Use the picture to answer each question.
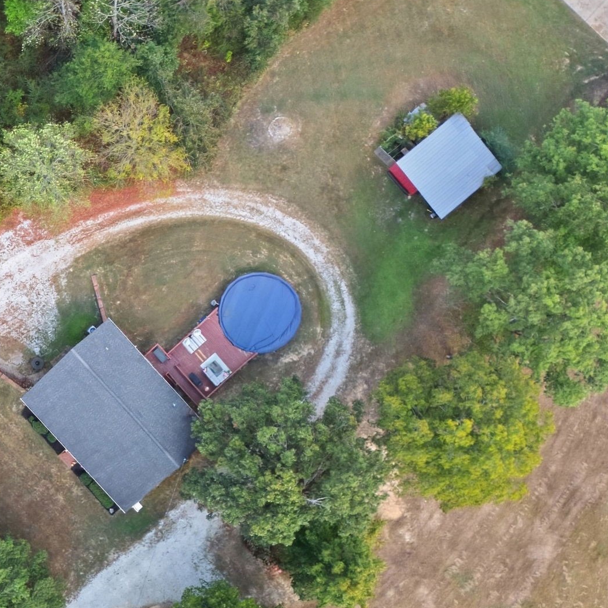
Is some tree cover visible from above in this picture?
Yes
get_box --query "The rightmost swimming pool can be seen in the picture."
[218,272,302,355]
